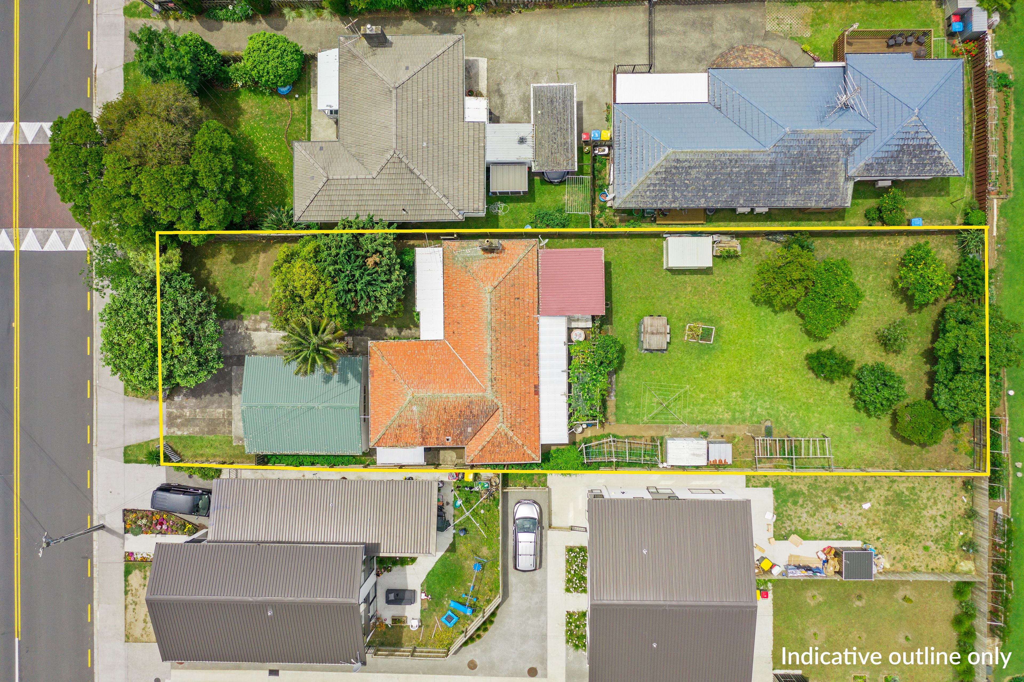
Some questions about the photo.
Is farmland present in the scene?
No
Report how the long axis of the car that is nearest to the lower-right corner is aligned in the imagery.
up and down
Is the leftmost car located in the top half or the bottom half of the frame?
bottom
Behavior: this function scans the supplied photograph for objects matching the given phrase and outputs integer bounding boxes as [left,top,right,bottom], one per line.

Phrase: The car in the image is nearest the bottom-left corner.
[149,482,210,522]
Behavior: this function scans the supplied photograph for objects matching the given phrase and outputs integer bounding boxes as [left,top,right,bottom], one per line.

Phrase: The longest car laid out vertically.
[510,499,543,572]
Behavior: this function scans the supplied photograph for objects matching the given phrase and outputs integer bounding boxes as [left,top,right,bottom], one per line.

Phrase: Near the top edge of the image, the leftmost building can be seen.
[292,23,489,223]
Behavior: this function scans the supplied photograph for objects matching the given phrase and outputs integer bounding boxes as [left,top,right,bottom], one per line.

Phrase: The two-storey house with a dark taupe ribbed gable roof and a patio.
[145,478,440,666]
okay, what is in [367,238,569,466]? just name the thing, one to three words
house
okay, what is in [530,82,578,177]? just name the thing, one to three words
building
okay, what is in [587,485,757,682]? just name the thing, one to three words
house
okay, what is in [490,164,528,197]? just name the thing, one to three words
shed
